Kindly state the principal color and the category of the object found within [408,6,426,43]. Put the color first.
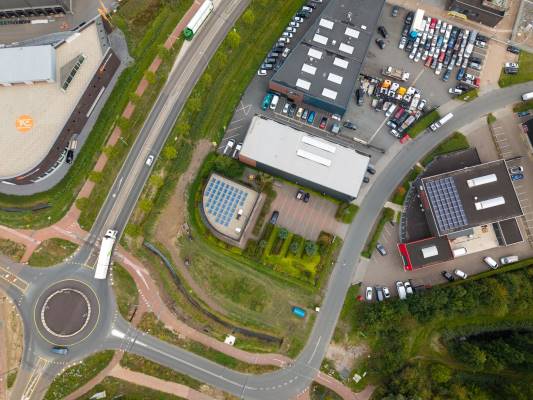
white vehicle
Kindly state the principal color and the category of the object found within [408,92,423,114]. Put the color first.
white vehicle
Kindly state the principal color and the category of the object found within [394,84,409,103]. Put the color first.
yellow vehicle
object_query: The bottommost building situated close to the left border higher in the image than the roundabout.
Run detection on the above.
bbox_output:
[0,15,120,189]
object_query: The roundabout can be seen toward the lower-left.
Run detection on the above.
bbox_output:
[23,269,110,358]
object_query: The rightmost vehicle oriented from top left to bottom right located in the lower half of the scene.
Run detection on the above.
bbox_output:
[483,254,499,270]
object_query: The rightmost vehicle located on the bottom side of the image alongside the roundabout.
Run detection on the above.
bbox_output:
[98,227,122,280]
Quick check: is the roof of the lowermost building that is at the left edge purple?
No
